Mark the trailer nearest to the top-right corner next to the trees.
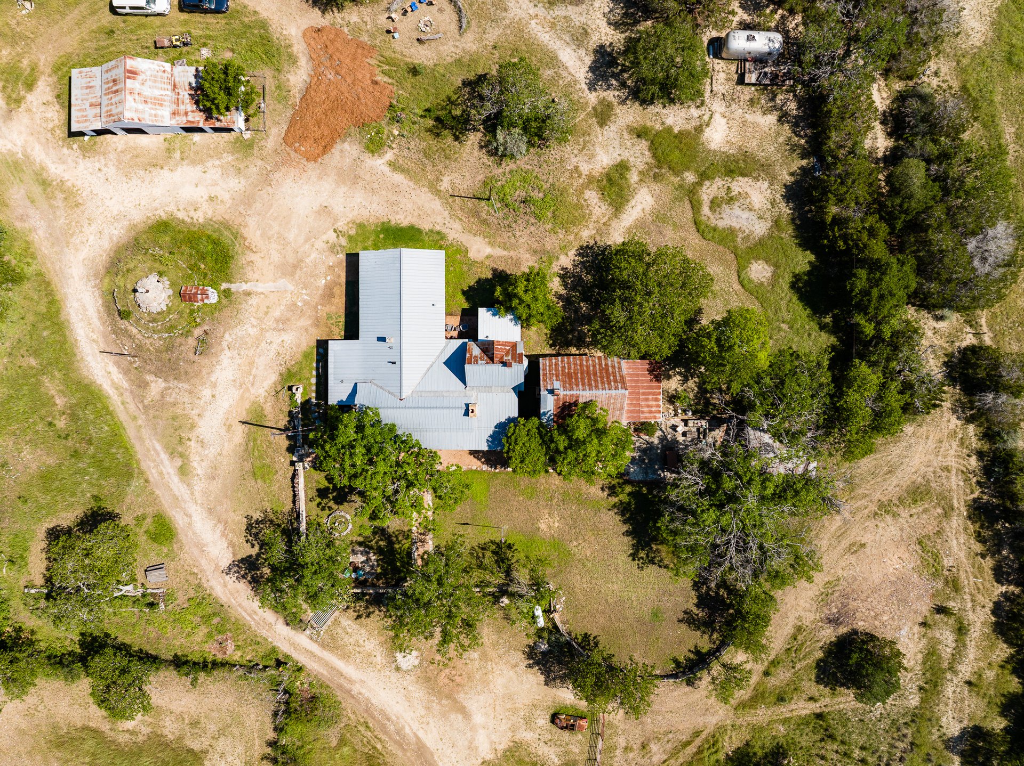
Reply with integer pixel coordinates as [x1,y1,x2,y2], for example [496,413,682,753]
[704,29,785,64]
